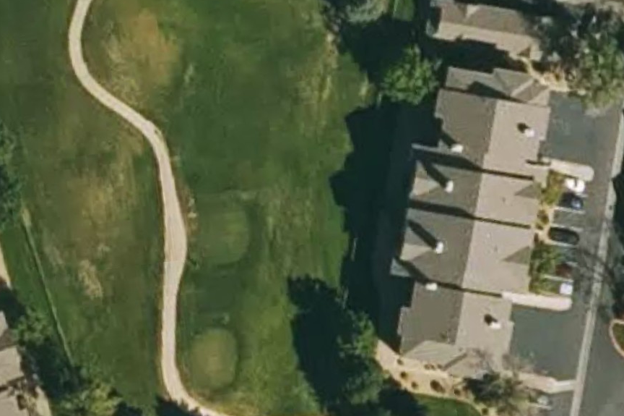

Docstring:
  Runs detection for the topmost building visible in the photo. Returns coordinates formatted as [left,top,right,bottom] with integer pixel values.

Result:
[432,2,540,63]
